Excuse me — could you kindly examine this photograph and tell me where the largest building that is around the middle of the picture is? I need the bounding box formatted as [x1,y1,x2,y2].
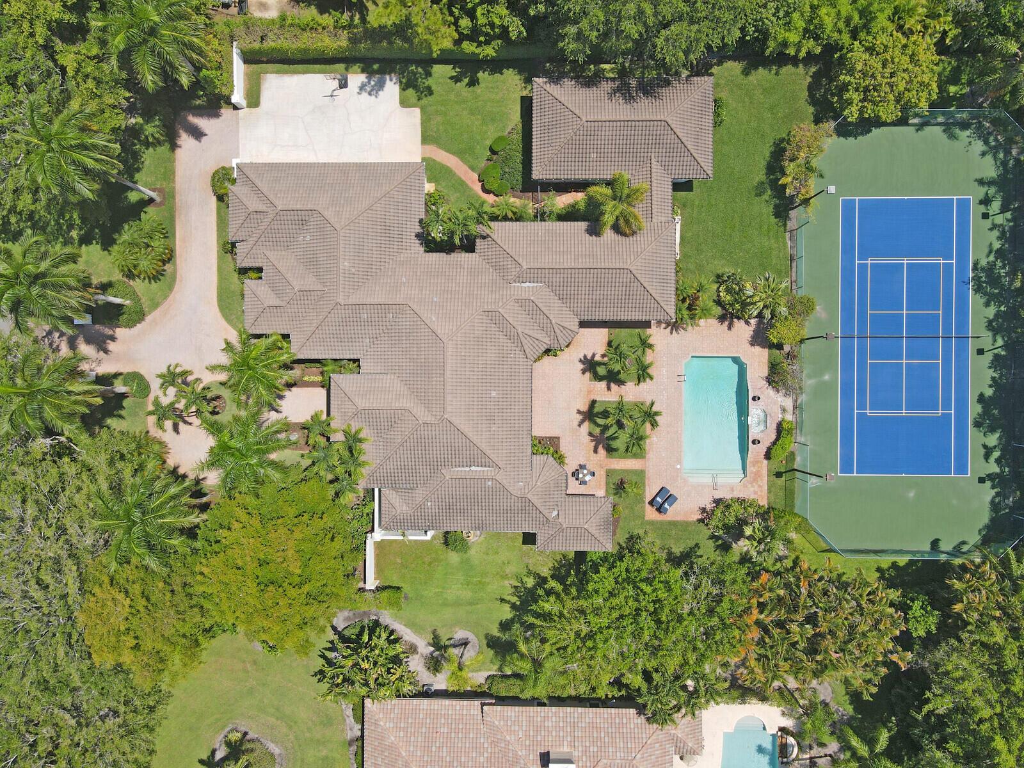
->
[227,161,677,551]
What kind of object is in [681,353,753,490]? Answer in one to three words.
swimming pool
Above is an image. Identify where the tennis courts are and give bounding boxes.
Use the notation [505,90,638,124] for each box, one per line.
[796,126,1015,550]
